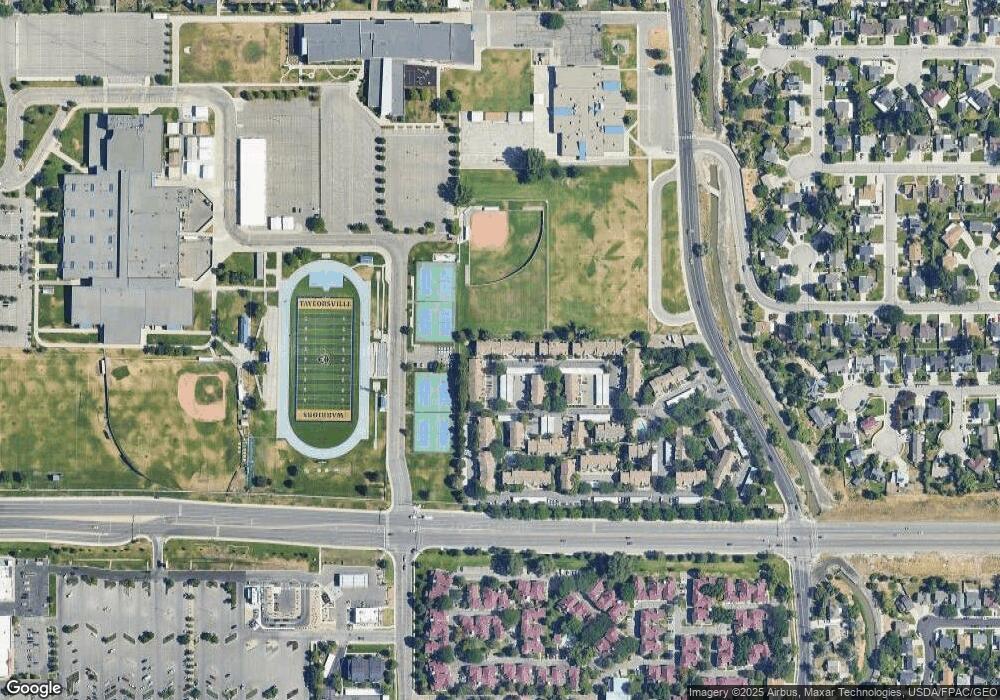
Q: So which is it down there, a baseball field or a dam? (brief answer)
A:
baseball field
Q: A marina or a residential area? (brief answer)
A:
residential area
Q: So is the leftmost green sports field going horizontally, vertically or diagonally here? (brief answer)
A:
vertically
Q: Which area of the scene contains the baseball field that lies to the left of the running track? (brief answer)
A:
left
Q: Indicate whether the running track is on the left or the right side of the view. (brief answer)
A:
left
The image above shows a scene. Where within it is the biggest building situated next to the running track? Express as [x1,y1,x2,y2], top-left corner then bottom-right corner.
[62,113,213,344]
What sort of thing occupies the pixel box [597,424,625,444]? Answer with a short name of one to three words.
building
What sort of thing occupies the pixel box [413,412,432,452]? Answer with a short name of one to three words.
tennis court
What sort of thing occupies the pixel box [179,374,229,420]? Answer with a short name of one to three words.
baseball field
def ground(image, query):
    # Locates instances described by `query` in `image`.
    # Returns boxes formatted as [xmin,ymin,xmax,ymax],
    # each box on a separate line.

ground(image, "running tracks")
[277,260,371,459]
